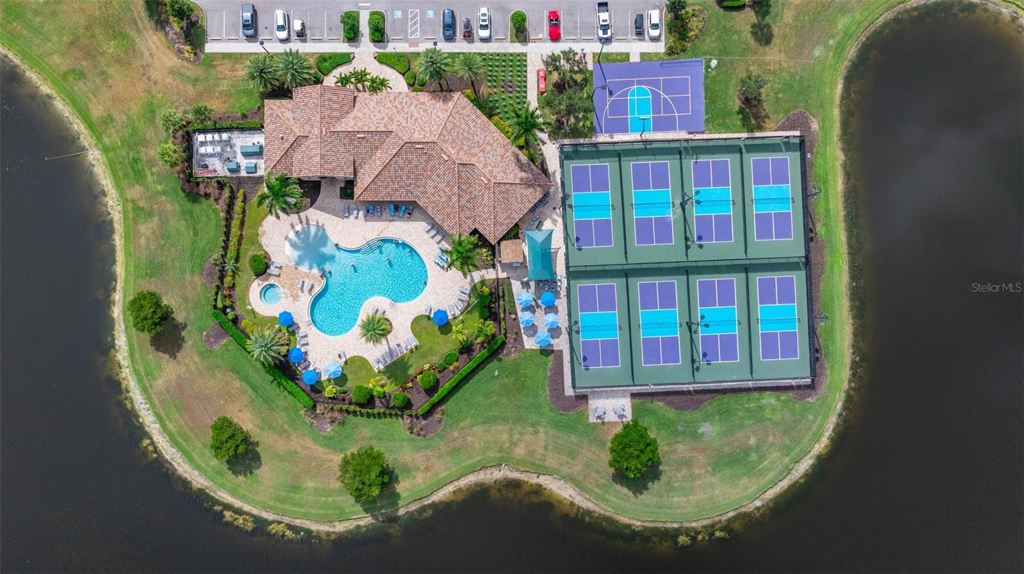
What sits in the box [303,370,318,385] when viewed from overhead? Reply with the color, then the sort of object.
blue umbrella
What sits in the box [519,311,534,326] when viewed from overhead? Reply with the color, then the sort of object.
blue umbrella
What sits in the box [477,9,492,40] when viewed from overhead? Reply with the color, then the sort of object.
white car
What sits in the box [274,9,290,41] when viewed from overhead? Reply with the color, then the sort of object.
white car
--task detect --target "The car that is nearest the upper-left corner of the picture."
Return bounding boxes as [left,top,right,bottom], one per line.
[241,5,257,38]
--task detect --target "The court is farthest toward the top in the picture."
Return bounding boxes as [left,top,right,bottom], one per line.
[594,58,705,135]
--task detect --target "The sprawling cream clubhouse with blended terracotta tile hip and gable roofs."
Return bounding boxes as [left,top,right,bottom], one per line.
[264,84,554,246]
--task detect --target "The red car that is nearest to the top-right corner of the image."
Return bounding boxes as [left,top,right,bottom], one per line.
[547,11,561,40]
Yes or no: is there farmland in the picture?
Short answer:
No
